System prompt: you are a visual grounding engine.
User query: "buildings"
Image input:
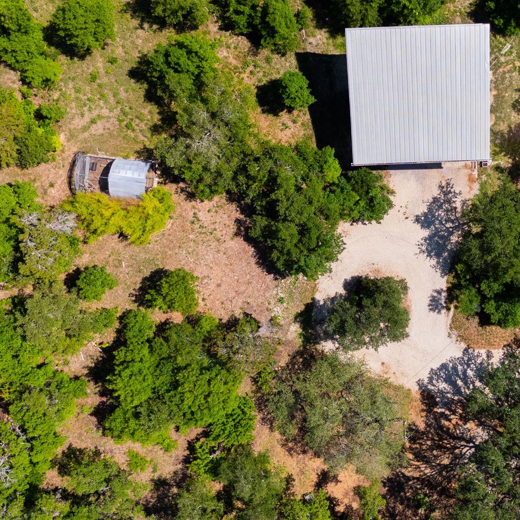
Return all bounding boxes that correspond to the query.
[76,155,164,201]
[345,22,493,167]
